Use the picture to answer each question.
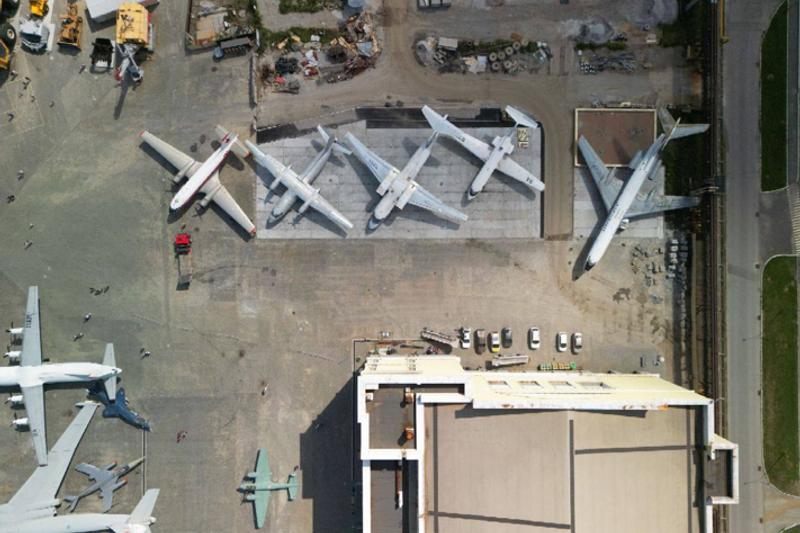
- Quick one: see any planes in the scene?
Yes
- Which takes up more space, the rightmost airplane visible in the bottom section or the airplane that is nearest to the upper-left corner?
the airplane that is nearest to the upper-left corner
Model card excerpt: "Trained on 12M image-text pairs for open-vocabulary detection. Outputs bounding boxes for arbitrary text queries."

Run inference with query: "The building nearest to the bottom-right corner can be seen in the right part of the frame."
[357,355,739,533]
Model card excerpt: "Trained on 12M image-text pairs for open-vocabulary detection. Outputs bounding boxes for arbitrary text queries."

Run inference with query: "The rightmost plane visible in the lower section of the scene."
[238,448,298,528]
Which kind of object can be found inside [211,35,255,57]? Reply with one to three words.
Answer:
truck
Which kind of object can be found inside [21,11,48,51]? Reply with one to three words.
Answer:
truck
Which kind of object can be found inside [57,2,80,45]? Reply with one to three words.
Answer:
work vehicle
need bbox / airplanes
[62,457,146,515]
[348,104,468,233]
[0,282,124,468]
[584,99,709,270]
[238,448,298,528]
[242,122,355,228]
[0,410,161,533]
[452,106,545,200]
[139,124,255,234]
[83,379,152,431]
